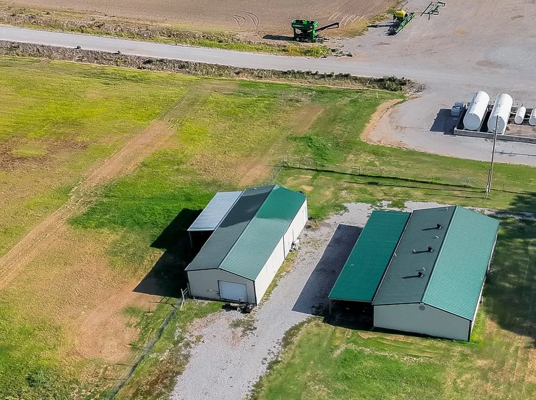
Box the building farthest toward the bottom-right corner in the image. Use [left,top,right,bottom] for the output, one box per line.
[331,199,499,345]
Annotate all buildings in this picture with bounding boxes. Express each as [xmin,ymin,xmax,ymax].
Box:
[331,199,499,345]
[182,182,308,310]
